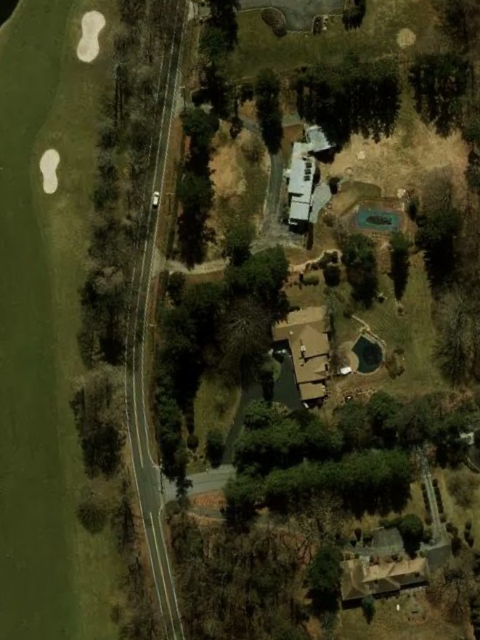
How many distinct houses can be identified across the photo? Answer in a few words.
3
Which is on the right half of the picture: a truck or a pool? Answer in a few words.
pool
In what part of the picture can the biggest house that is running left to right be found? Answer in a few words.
bottom right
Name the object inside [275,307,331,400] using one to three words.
house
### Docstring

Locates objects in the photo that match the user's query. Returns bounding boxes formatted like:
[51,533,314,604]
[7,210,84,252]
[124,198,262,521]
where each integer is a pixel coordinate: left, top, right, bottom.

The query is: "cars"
[153,192,159,205]
[301,400,311,412]
[273,348,286,355]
